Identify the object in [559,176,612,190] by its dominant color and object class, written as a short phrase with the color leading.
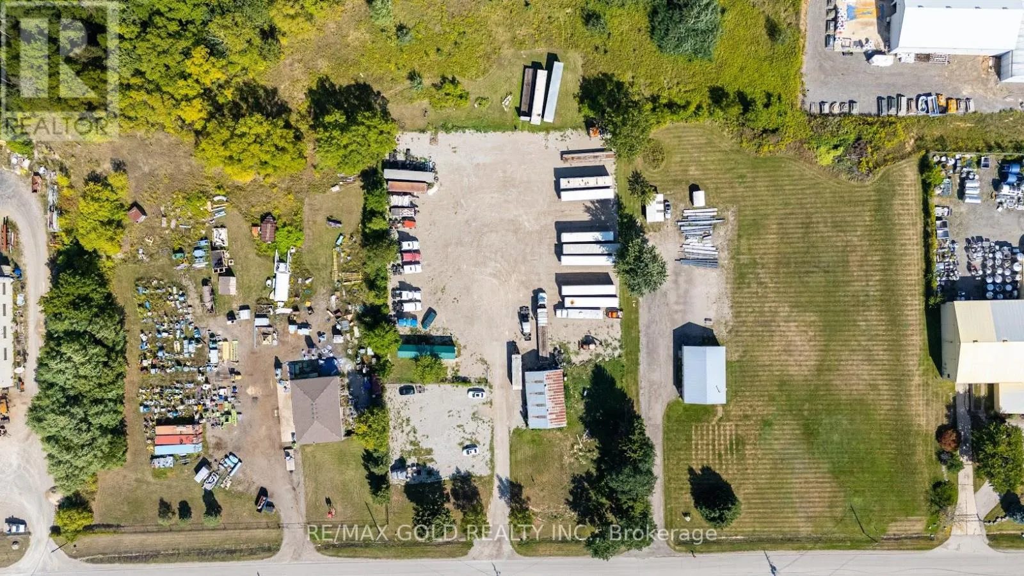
white trailer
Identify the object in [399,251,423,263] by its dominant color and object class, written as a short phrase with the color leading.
red vehicle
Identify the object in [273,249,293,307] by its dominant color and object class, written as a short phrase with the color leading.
white vehicle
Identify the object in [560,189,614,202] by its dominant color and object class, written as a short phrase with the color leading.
white vehicle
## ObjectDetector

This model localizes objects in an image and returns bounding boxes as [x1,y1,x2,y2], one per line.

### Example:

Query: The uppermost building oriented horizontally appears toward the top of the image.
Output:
[891,0,1022,54]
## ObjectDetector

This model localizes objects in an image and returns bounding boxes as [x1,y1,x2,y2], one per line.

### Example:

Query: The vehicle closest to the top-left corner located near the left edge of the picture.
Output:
[32,175,45,193]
